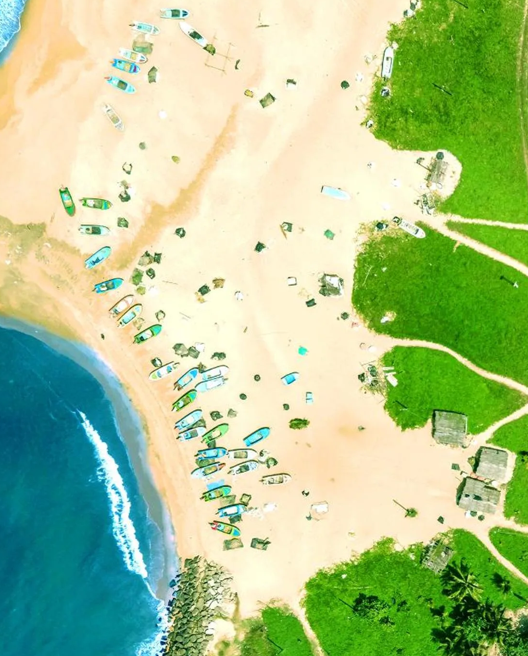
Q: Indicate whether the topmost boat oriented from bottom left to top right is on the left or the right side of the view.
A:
left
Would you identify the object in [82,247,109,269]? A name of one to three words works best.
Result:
boat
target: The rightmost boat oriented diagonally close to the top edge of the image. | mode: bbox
[176,20,208,49]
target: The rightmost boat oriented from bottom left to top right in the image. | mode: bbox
[278,374,298,387]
